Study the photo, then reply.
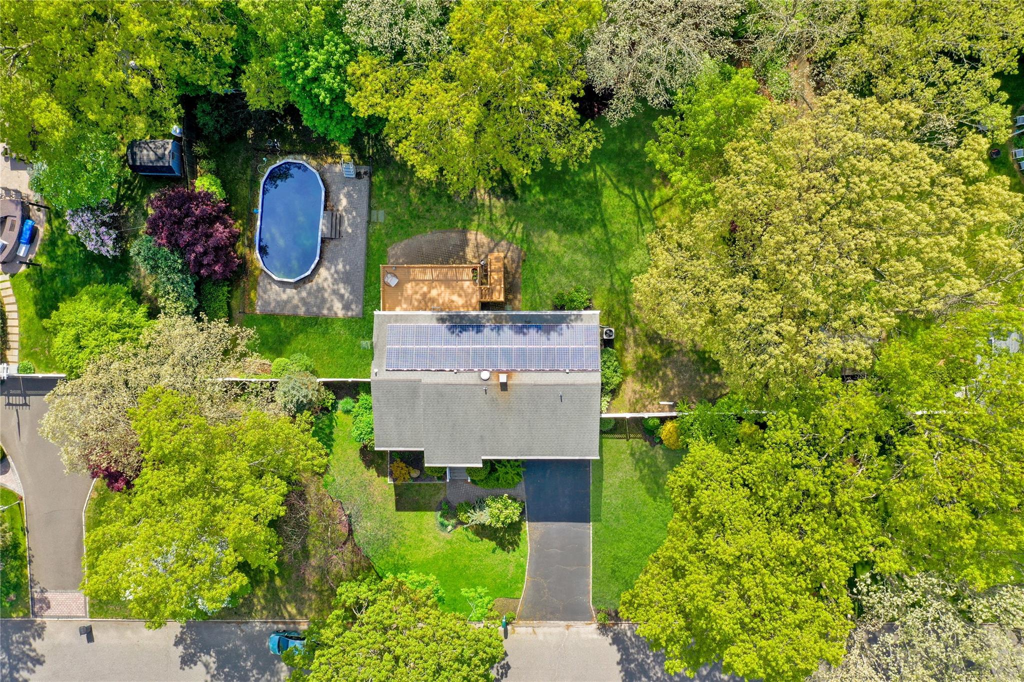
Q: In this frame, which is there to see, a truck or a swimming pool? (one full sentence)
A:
I can see a swimming pool in this picture.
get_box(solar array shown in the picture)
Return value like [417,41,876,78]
[385,325,599,373]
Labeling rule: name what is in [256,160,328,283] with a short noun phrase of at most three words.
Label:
swimming pool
